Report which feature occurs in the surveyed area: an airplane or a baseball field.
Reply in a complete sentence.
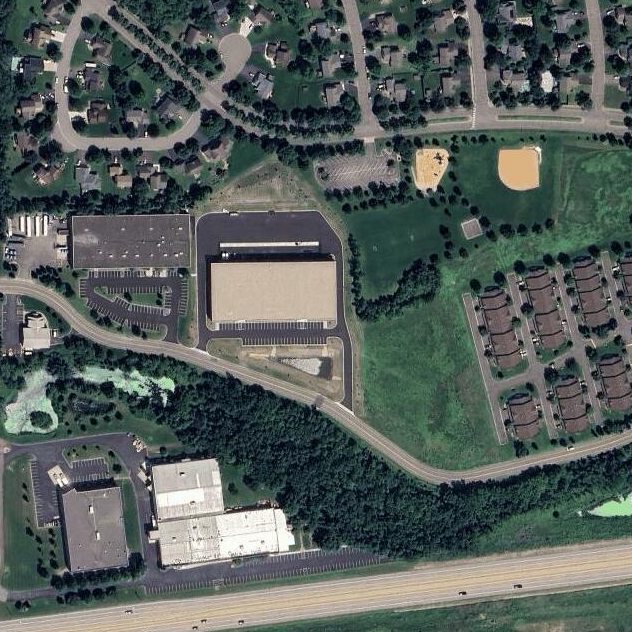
Of the two, only a baseball field appears.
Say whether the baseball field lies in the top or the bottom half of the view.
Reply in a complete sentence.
Seen from above, the baseball field lies in the top half of the view.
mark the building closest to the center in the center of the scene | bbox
[211,261,337,321]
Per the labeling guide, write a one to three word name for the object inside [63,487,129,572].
building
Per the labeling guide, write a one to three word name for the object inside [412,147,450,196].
playground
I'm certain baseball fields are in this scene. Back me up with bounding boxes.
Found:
[498,147,541,191]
